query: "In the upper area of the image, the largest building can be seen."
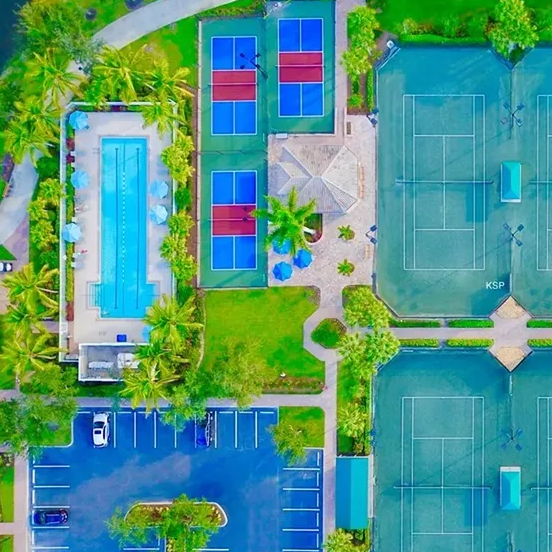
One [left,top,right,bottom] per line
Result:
[268,145,360,214]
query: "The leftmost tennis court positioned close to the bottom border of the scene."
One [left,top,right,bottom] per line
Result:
[374,351,510,552]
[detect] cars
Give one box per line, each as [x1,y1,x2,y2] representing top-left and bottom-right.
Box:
[195,411,214,448]
[33,510,70,528]
[92,411,111,448]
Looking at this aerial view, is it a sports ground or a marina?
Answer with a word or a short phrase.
sports ground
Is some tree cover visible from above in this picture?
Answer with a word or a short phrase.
Yes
